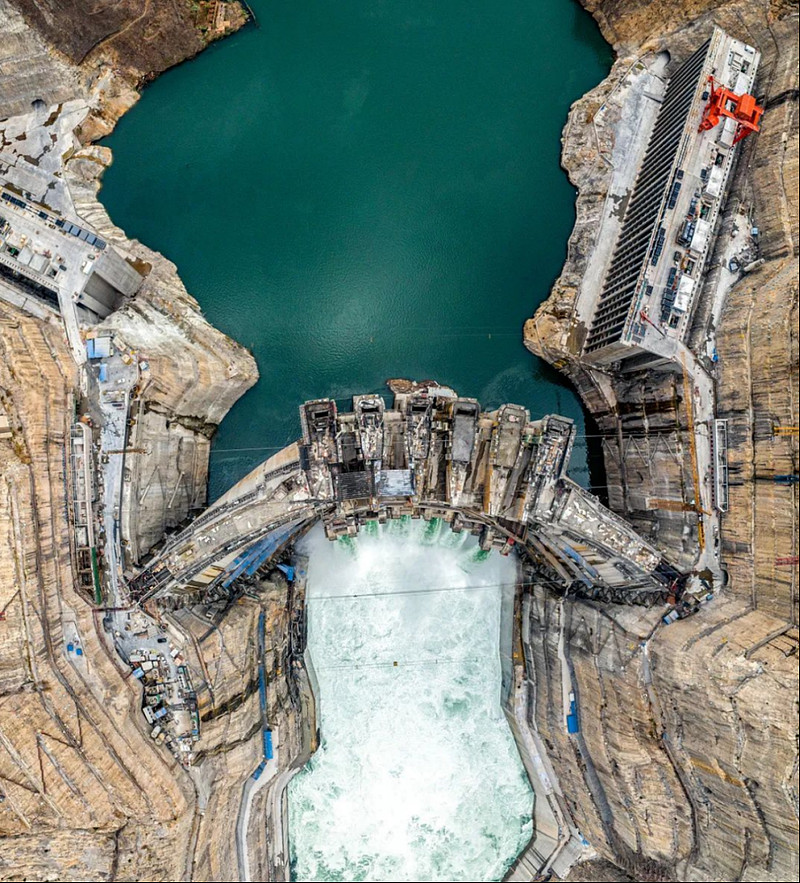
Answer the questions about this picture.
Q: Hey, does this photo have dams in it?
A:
Yes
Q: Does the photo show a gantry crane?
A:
Yes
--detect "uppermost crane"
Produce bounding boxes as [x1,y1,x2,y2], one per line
[679,62,764,132]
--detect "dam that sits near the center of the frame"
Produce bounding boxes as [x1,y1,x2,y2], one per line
[138,392,684,608]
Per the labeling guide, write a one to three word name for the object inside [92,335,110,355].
shed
